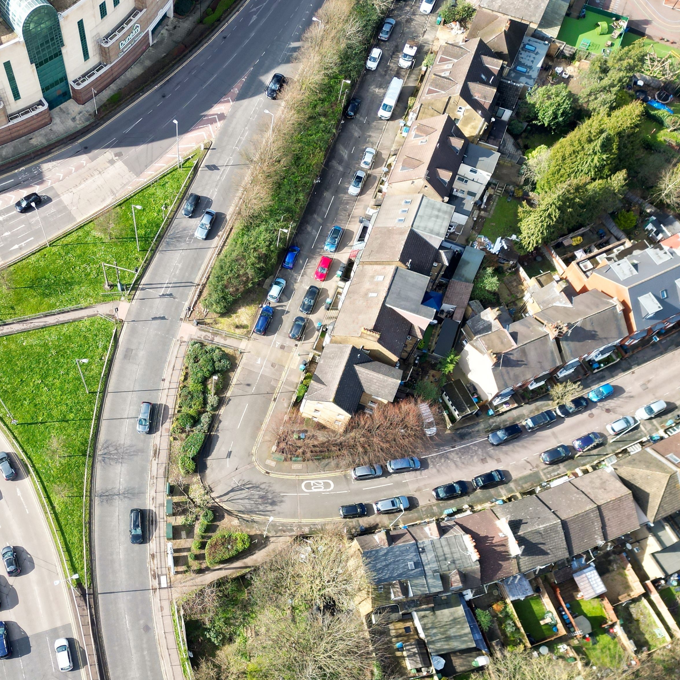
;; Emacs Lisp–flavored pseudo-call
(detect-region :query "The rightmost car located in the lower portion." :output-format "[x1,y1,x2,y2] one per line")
[633,400,670,422]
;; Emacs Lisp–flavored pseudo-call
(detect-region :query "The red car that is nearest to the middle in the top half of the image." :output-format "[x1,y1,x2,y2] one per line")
[314,255,333,283]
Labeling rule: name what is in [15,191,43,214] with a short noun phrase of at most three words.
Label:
car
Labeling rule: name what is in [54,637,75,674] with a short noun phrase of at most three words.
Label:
car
